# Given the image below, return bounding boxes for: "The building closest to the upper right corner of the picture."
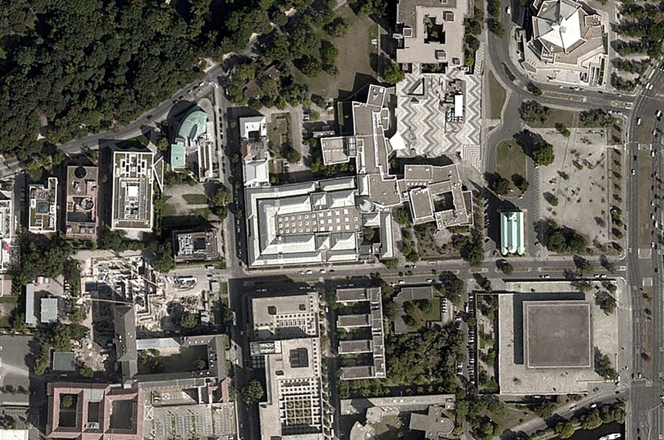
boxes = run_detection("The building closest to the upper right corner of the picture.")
[523,0,603,73]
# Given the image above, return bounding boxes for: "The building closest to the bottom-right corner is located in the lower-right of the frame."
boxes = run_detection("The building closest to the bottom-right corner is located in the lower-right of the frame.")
[500,282,618,394]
